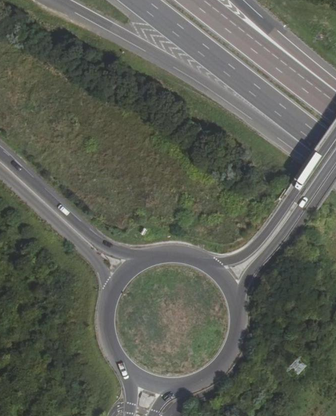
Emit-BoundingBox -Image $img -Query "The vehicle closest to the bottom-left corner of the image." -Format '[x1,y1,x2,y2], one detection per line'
[115,360,127,378]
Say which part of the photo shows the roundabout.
bottom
